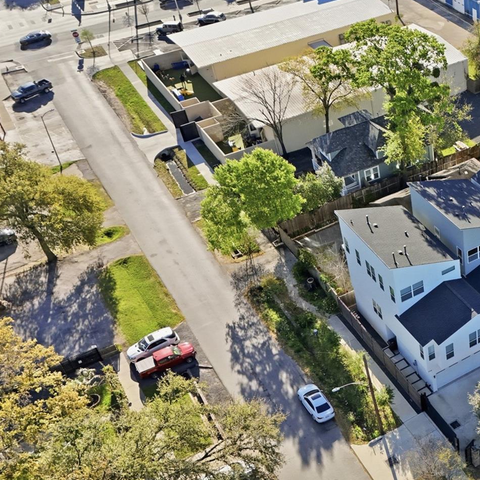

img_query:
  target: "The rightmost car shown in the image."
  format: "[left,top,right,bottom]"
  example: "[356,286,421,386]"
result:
[294,380,337,424]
